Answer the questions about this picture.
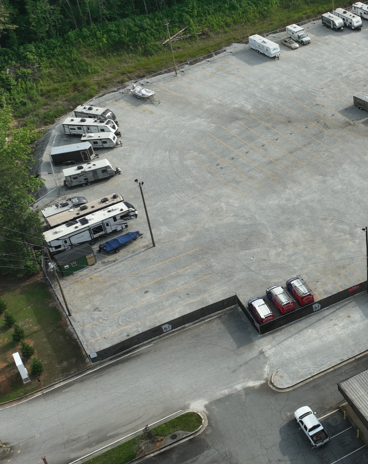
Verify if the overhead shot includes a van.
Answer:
Yes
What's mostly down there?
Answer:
paved ground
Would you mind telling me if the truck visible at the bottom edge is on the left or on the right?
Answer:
right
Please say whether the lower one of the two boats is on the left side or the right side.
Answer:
left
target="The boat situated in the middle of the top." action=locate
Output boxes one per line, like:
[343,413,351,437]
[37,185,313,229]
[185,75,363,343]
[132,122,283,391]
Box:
[132,83,158,96]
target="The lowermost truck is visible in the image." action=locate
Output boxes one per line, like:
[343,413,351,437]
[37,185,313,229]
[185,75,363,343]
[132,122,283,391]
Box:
[295,406,331,452]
